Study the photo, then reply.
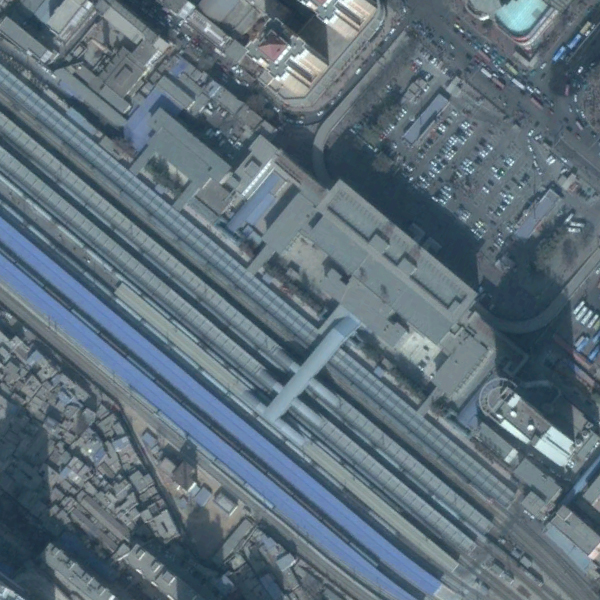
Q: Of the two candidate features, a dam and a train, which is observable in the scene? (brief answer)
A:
train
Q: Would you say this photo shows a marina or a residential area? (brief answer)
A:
residential area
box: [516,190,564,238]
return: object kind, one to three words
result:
shed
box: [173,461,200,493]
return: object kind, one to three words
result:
house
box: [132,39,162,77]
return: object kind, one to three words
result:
building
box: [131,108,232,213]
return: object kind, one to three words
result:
building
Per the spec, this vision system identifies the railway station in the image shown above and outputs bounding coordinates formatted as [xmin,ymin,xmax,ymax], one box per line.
[247,178,500,407]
